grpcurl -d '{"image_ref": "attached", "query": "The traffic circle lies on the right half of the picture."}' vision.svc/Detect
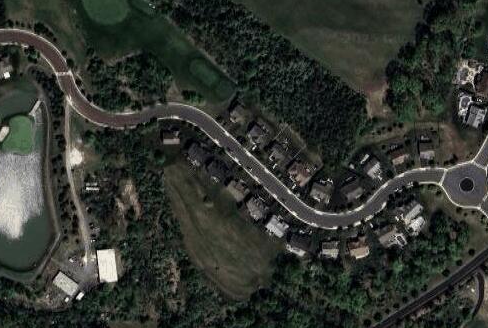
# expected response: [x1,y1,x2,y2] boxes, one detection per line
[443,161,488,208]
